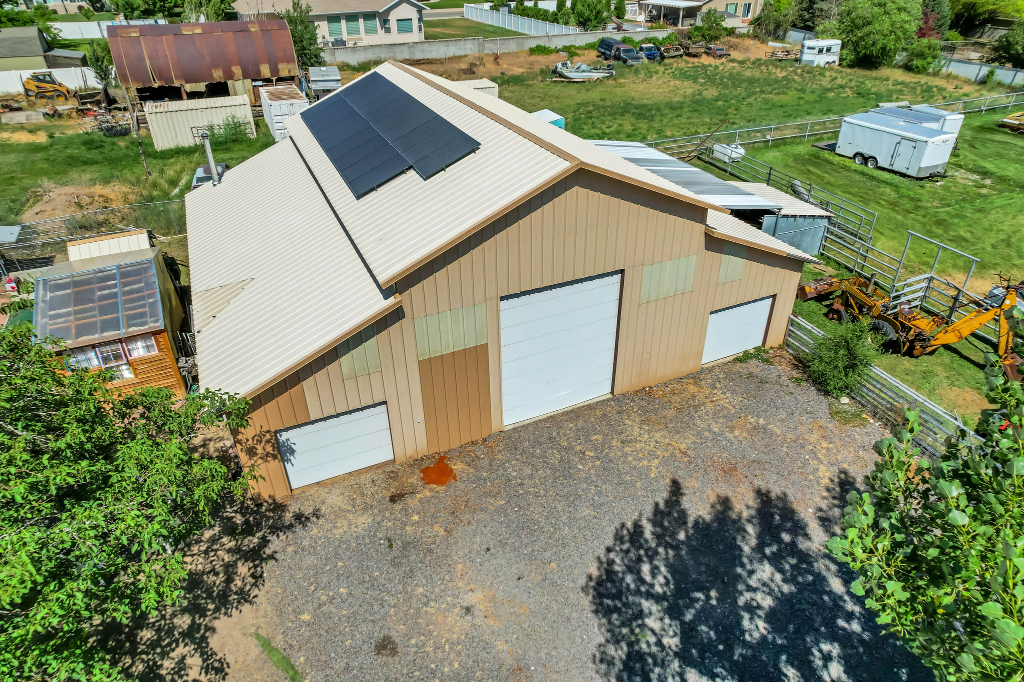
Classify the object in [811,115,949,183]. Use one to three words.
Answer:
trailer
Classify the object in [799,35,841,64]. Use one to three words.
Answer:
trailer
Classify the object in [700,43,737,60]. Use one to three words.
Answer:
car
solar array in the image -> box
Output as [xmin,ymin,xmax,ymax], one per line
[294,72,481,201]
